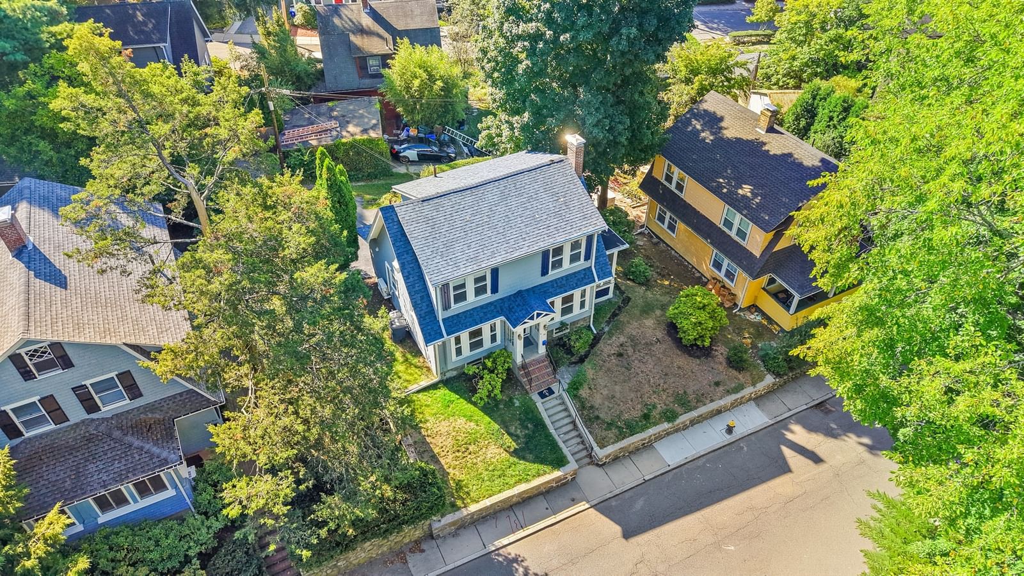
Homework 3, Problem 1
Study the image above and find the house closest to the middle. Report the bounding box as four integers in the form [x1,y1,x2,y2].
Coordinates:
[359,133,633,386]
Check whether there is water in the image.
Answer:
No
